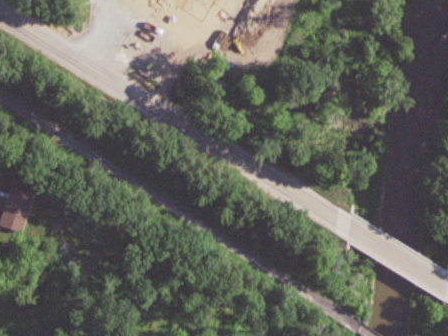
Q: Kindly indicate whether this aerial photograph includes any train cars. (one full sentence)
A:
No, there's no train car here.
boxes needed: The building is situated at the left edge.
[0,190,34,232]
